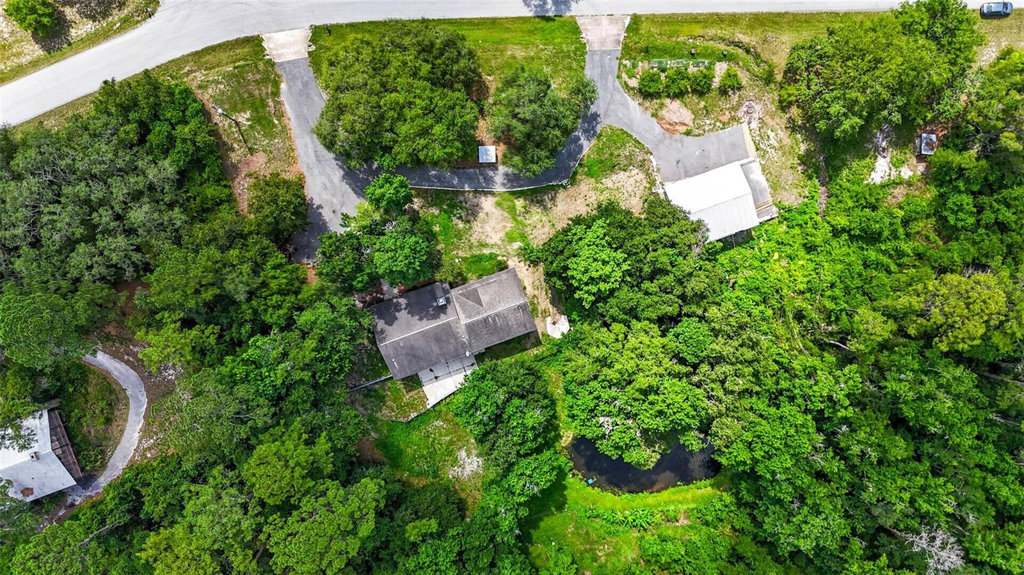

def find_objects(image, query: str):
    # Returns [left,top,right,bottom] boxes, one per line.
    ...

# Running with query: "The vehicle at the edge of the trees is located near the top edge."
[980,1,1011,18]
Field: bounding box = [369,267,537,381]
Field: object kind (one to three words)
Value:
house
